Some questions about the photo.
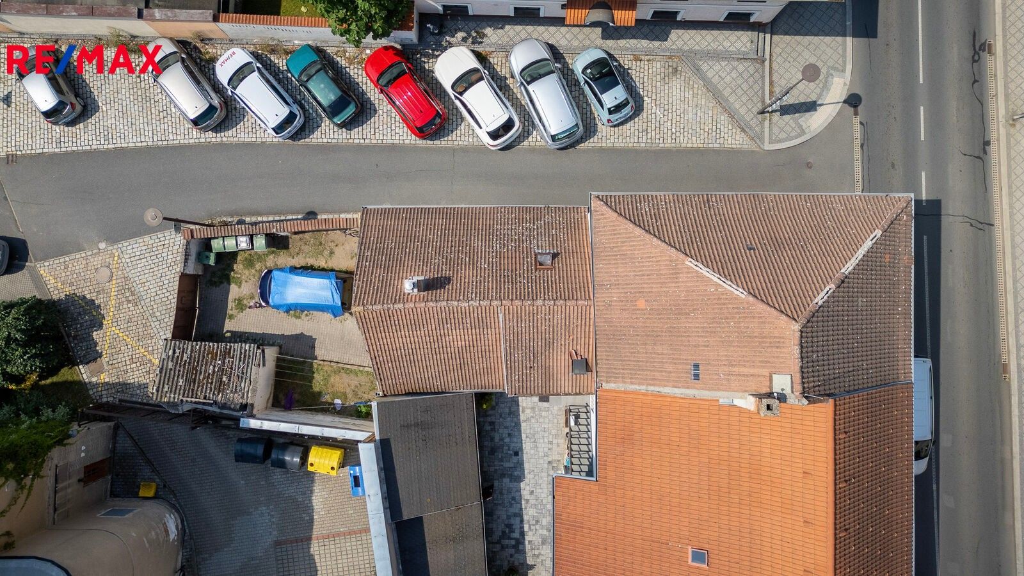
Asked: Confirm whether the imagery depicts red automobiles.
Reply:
Yes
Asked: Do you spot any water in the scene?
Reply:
No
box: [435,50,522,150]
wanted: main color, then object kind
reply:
white car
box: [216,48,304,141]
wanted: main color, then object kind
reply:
white car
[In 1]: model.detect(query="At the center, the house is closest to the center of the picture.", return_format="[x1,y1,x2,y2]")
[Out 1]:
[351,203,596,398]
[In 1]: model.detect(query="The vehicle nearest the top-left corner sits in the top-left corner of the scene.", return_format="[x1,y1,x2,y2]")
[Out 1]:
[10,44,86,129]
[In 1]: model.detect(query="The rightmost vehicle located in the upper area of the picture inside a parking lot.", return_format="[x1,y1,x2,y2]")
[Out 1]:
[571,49,636,127]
